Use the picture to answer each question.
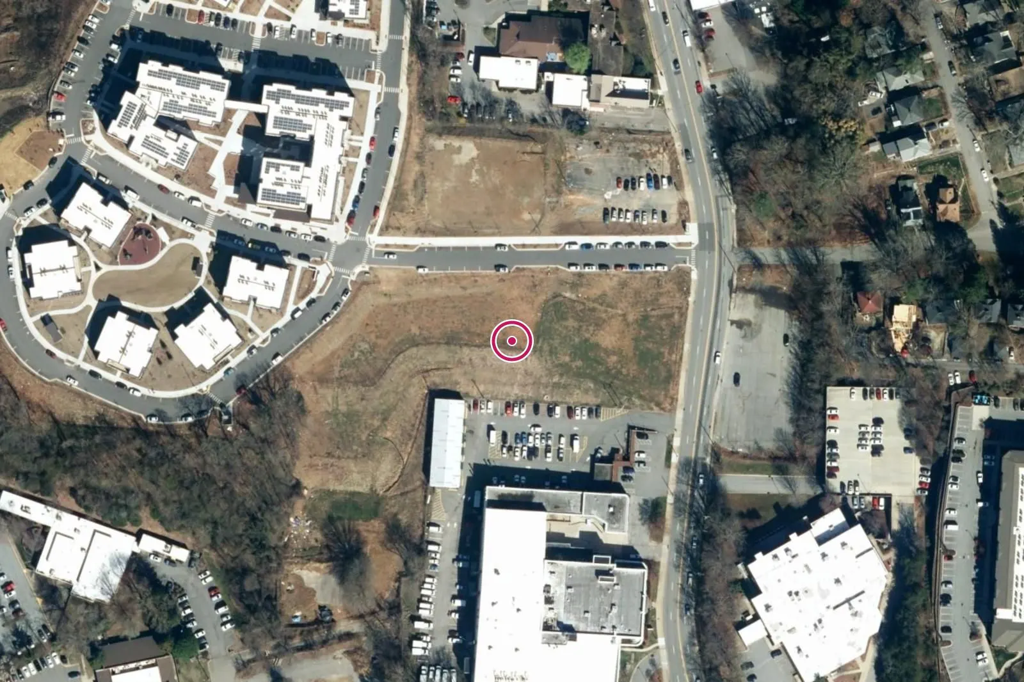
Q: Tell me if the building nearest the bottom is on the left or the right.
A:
left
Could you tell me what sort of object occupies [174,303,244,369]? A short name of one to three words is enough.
house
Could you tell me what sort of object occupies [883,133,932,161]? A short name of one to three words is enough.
house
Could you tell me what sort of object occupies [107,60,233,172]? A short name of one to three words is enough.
building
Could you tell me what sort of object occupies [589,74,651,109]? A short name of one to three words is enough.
building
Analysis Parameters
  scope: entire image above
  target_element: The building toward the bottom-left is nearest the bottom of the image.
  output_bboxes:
[95,636,176,682]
